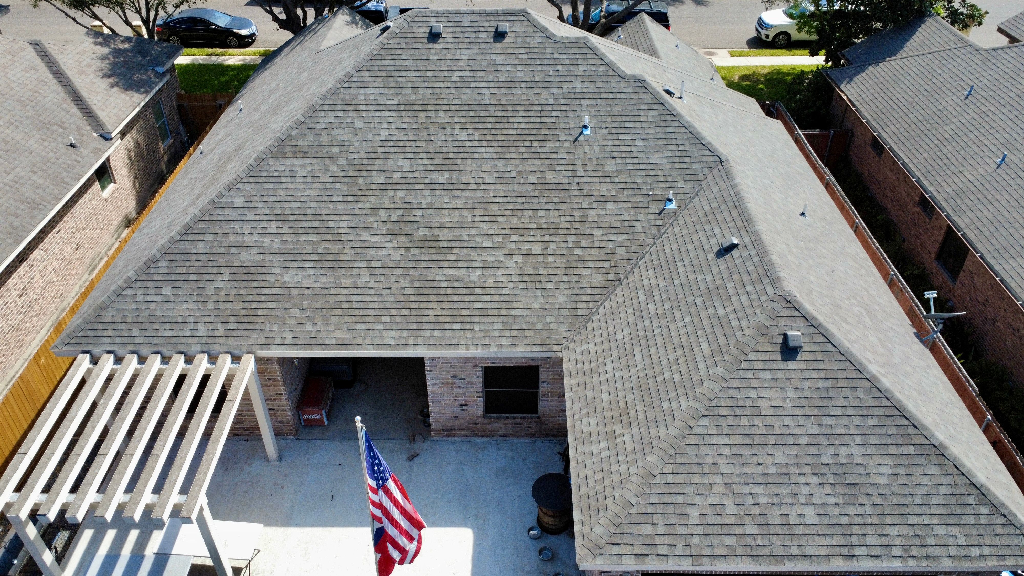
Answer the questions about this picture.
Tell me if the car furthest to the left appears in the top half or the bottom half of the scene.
top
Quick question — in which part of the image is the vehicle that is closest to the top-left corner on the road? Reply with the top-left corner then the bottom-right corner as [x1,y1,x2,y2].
[159,10,269,48]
